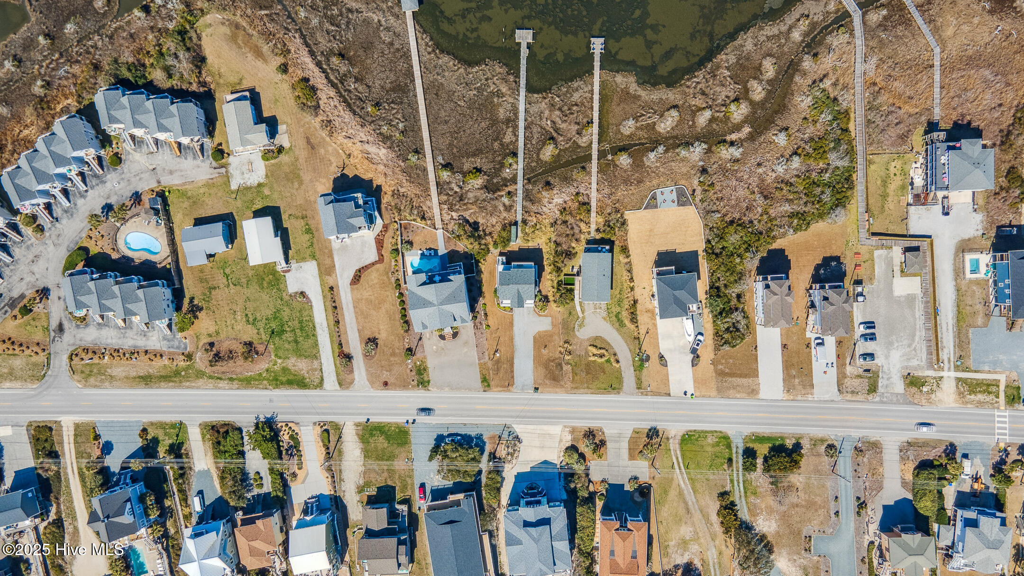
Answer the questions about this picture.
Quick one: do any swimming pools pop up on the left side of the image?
Yes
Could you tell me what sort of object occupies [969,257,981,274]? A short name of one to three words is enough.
swimming pool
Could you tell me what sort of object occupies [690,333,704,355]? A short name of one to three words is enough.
vehicle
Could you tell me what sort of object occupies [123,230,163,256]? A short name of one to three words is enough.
swimming pool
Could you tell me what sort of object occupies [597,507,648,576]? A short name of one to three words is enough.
house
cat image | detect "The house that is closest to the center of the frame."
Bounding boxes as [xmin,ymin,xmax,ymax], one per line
[496,257,538,308]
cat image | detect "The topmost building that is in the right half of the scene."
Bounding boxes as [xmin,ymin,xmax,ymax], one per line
[910,131,995,206]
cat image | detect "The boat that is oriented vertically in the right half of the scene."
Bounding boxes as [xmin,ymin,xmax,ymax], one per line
[682,314,694,341]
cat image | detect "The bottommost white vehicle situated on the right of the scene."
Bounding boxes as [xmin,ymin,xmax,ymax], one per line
[958,456,971,477]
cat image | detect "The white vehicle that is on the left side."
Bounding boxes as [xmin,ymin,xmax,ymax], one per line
[193,492,205,511]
